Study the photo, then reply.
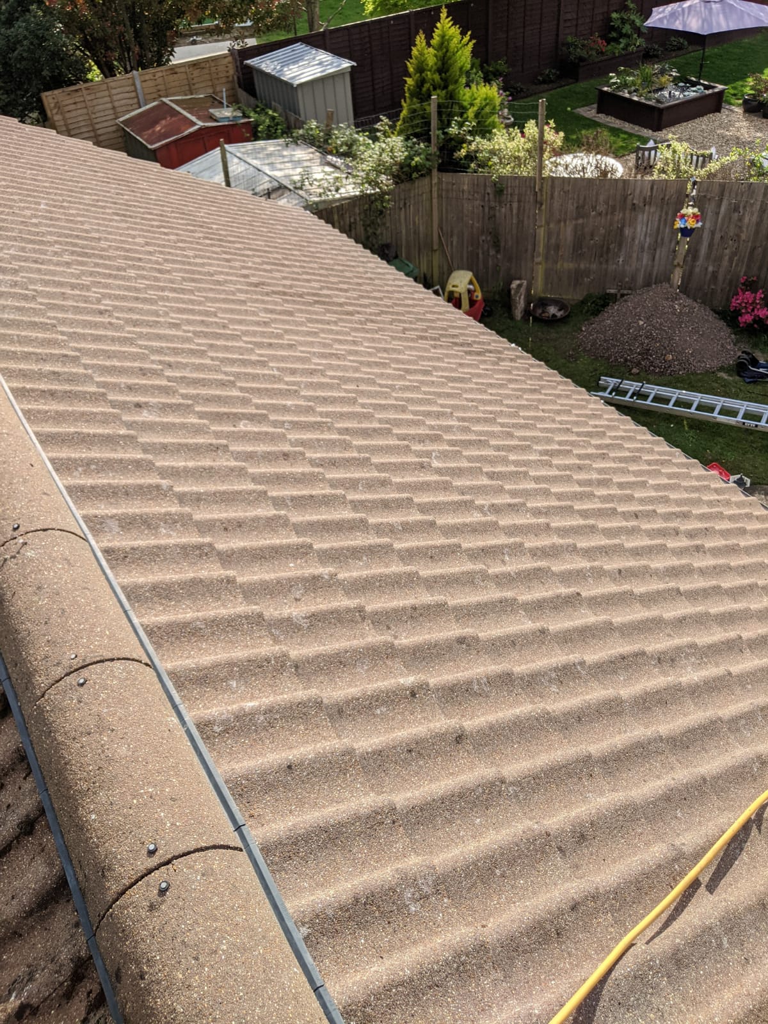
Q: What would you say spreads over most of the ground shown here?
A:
buildings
